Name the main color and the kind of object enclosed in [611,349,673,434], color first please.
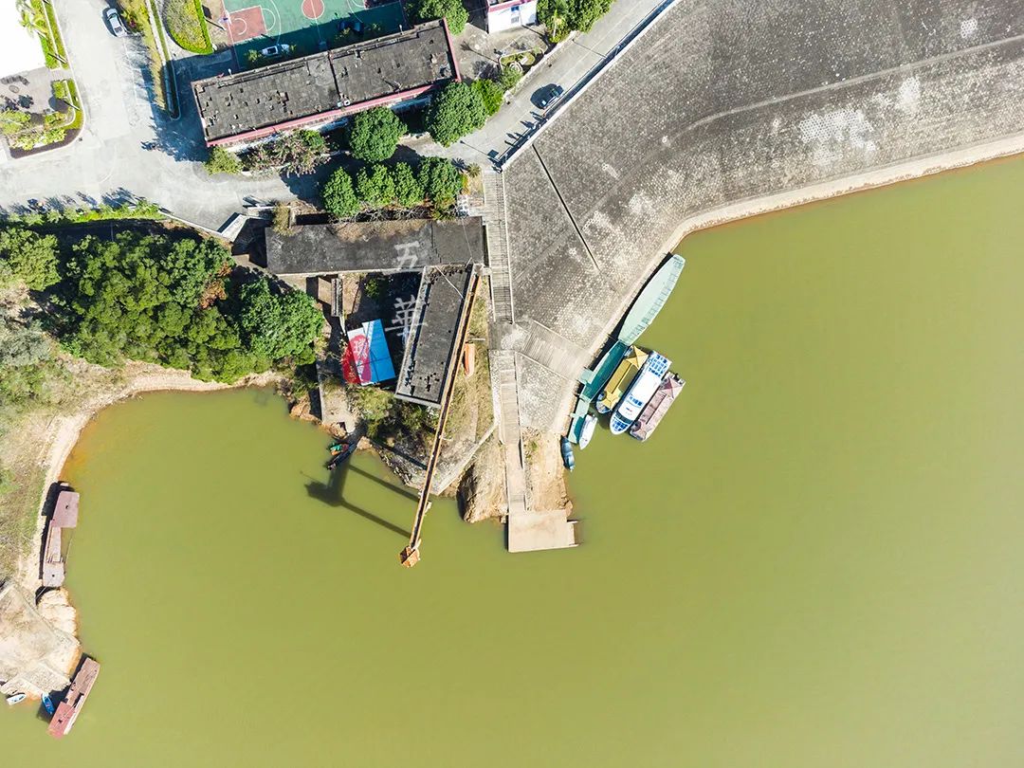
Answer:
white boat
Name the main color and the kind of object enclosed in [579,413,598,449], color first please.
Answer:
white boat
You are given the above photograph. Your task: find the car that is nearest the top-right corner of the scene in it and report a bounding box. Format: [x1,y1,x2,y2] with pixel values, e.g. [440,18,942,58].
[538,83,565,109]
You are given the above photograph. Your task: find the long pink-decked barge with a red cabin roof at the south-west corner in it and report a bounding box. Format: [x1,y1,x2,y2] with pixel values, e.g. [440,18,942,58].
[49,655,103,736]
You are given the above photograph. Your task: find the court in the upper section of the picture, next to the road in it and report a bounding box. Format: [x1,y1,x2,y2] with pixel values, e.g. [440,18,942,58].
[218,0,408,69]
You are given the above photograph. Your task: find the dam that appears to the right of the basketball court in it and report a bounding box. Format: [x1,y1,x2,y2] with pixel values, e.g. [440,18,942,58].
[495,0,1024,423]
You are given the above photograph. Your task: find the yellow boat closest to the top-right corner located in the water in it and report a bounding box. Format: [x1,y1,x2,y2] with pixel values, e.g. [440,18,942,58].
[601,344,651,414]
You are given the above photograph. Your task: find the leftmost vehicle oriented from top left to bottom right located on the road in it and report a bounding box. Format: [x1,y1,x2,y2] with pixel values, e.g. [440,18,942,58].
[107,8,129,37]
